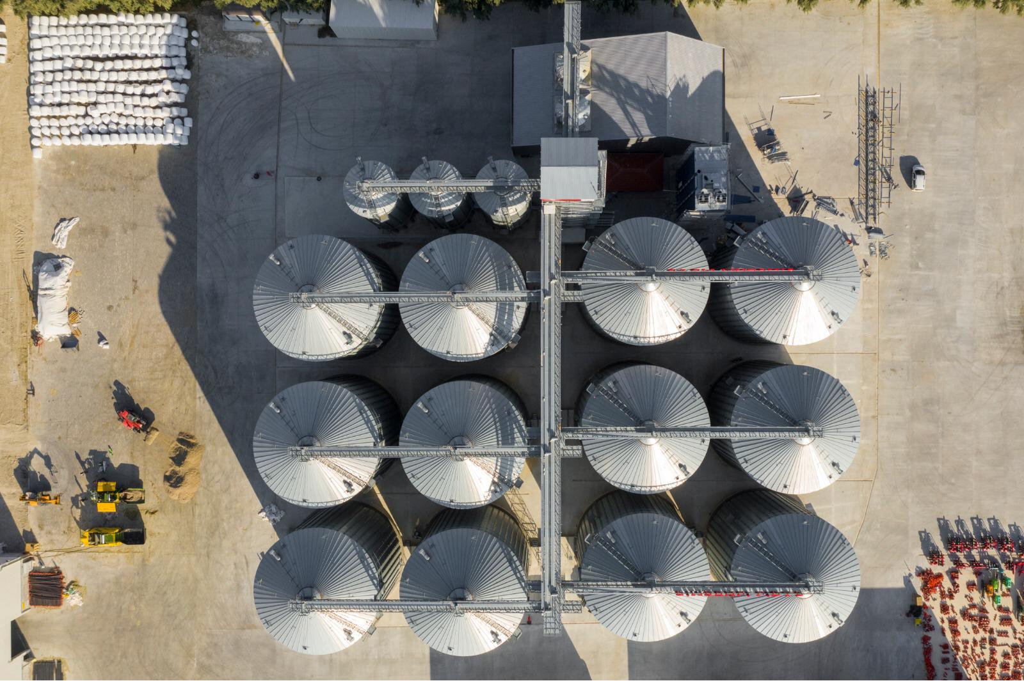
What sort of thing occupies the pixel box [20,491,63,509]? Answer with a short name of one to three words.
work vehicle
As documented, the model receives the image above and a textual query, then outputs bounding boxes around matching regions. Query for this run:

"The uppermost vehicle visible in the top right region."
[913,164,928,191]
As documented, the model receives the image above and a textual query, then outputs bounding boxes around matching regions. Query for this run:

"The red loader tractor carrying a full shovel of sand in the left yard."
[113,407,159,444]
